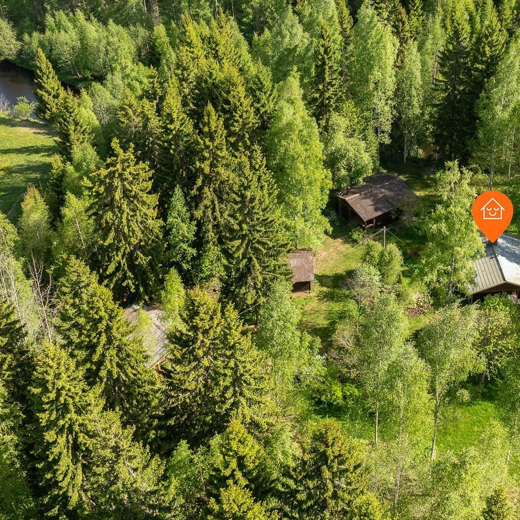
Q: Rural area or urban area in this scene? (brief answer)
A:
rural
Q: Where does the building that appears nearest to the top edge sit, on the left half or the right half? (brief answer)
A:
right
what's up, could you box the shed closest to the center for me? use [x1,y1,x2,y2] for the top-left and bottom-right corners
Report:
[289,253,318,300]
